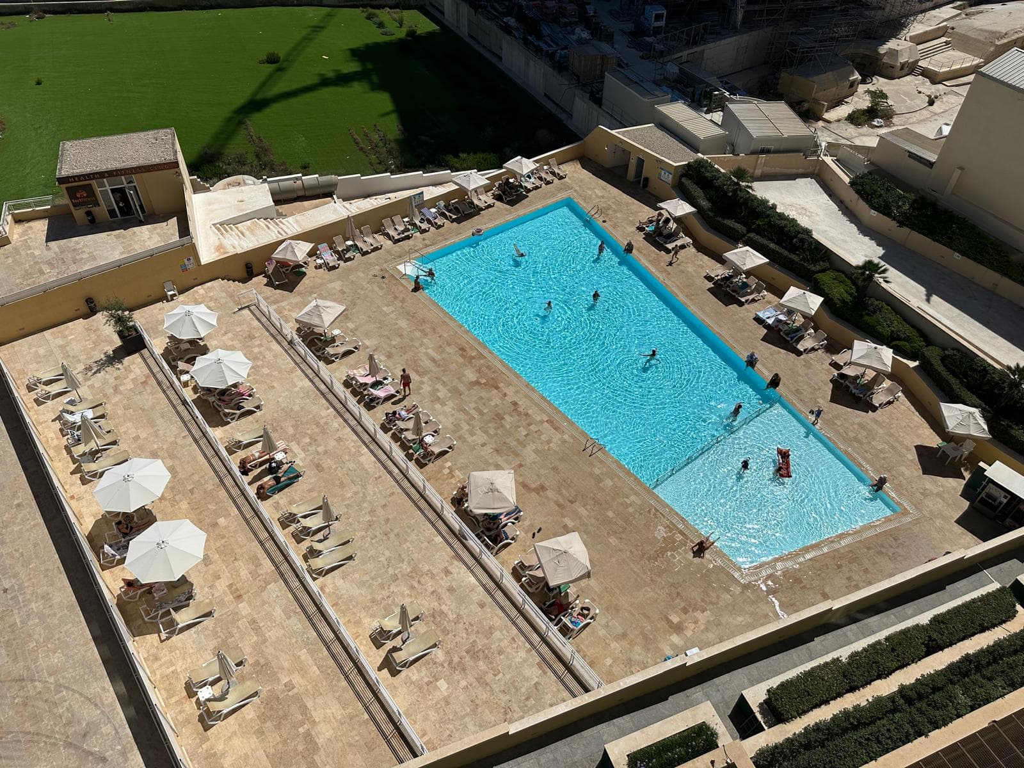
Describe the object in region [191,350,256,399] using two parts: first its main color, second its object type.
white umbrella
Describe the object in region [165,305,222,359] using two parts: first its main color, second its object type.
white umbrella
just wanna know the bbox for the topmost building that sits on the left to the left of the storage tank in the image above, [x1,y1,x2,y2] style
[56,128,186,225]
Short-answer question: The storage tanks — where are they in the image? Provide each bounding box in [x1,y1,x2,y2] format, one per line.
[263,172,337,201]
